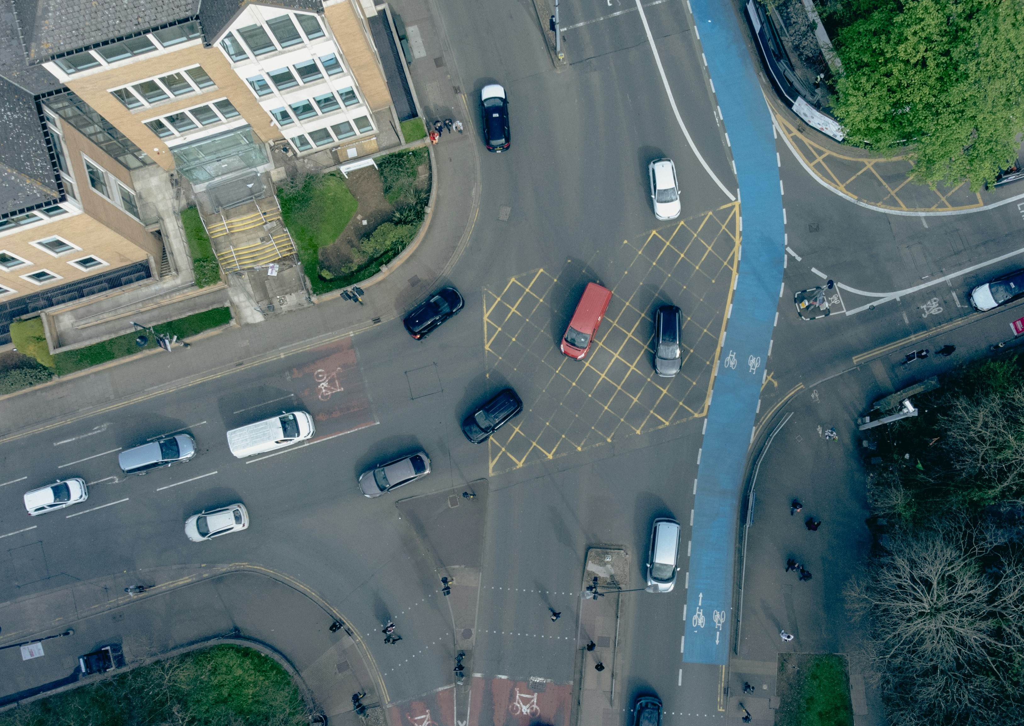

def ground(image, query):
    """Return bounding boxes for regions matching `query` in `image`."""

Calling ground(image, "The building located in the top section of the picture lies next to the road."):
[0,0,396,301]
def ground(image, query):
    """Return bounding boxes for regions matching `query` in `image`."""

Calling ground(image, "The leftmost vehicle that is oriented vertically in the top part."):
[479,86,512,152]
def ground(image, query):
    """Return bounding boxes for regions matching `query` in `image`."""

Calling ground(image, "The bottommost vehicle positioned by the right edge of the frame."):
[967,266,1024,314]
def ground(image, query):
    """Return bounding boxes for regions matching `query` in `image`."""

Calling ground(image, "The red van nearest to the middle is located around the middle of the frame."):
[561,281,614,362]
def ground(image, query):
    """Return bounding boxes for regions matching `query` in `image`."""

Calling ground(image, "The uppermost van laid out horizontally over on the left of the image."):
[225,412,313,460]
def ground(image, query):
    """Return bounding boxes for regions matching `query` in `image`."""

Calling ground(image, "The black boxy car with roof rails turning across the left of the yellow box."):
[461,386,523,444]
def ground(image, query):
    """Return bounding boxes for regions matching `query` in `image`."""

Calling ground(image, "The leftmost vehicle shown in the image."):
[22,480,90,517]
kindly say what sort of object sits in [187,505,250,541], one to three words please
car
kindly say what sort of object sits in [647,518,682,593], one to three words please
car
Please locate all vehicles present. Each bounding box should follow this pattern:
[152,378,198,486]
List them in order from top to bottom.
[479,86,512,152]
[648,157,683,223]
[967,266,1024,314]
[561,281,614,362]
[406,286,465,338]
[652,306,686,377]
[461,386,523,444]
[225,412,313,460]
[361,453,433,499]
[22,480,90,517]
[187,505,250,541]
[647,518,682,593]
[632,691,663,726]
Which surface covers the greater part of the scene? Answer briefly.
paved ground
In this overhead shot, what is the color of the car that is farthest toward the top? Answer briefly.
black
